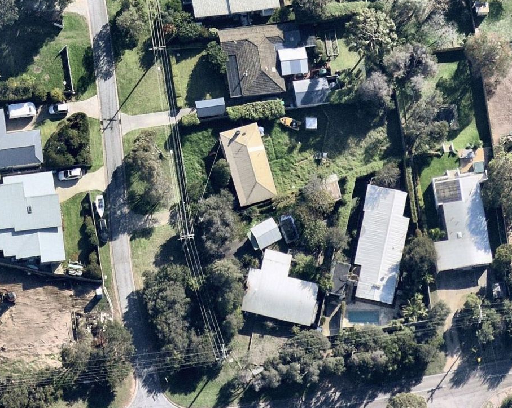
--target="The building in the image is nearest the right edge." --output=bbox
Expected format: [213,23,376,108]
[432,148,493,274]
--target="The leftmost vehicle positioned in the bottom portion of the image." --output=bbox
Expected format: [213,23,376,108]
[0,290,19,304]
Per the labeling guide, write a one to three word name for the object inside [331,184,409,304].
house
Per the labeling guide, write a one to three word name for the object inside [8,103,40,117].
camper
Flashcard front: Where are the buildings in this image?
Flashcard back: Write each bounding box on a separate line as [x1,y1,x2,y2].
[219,22,316,104]
[292,77,329,109]
[242,249,323,326]
[328,173,342,203]
[196,97,226,119]
[219,123,276,207]
[250,218,282,251]
[331,184,409,304]
[0,108,44,170]
[0,171,67,265]
[182,0,279,25]
[432,148,493,274]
